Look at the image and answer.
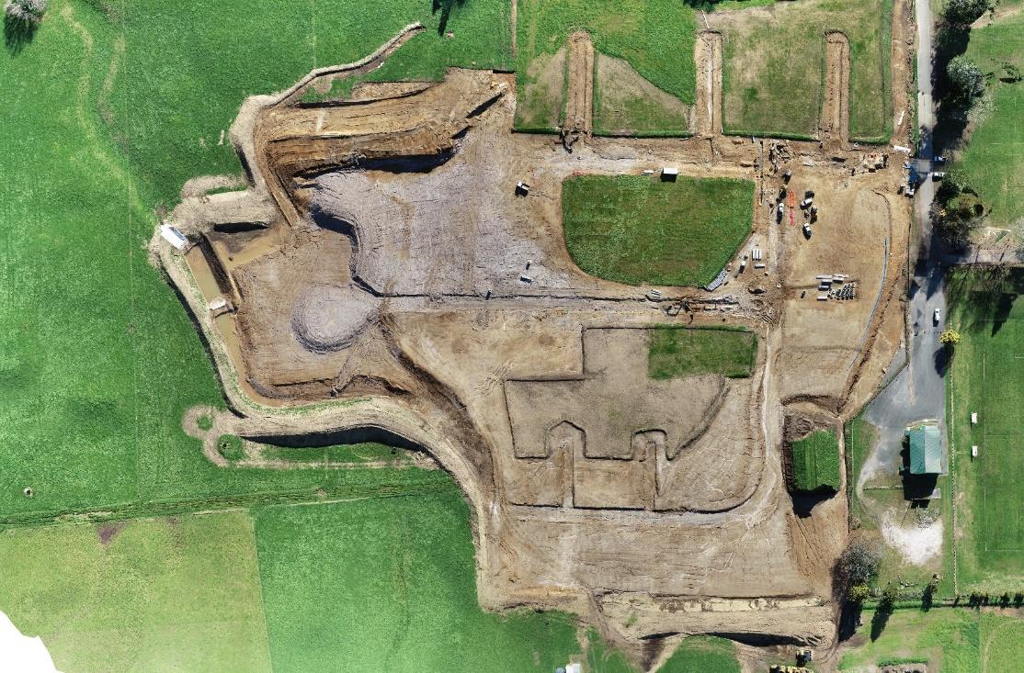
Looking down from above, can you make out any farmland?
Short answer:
Yes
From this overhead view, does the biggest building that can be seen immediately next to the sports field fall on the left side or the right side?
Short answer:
right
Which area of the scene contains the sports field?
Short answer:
right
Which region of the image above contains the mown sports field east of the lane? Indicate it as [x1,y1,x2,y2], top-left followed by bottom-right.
[956,0,1024,589]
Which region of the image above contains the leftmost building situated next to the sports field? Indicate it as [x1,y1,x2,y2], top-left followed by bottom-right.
[910,427,942,474]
